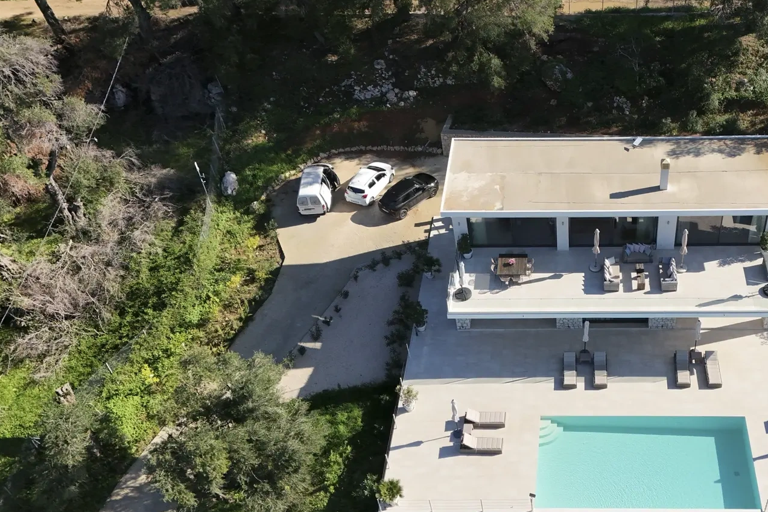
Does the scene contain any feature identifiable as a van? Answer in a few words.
Yes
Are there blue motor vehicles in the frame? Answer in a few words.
No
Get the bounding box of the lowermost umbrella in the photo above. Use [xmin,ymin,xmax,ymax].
[450,399,463,439]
